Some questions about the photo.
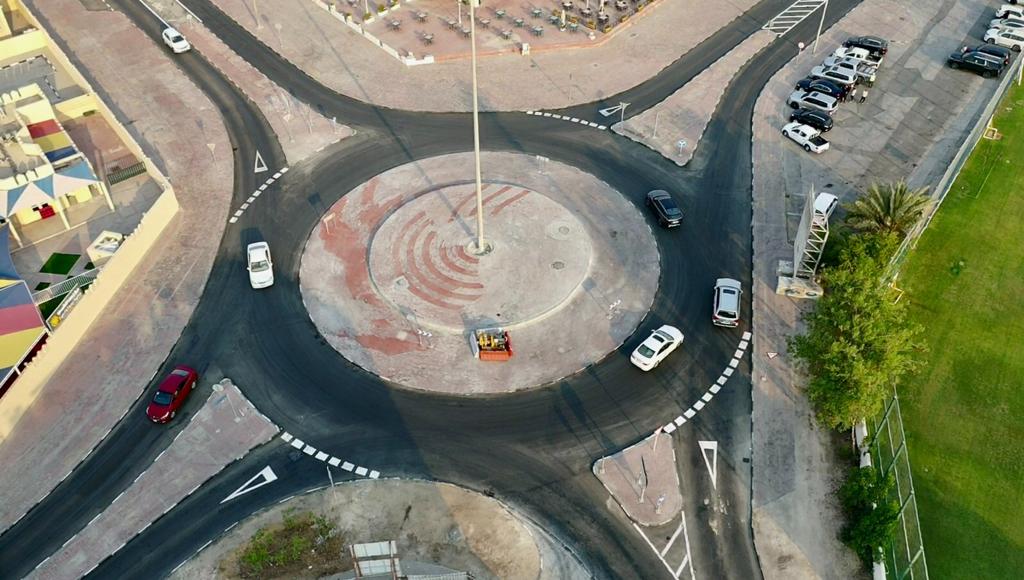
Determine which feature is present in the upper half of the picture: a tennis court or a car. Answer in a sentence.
You can see a car in the upper half of the picture.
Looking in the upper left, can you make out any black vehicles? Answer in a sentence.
No, looking in the upper left, there is no black vehicle.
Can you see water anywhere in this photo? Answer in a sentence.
No, there's no water in this view.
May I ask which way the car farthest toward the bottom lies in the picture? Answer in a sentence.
Seen from above, the car farthest toward the bottom lies diagonally.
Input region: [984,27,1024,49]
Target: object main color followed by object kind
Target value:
white car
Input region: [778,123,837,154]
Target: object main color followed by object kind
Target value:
white truck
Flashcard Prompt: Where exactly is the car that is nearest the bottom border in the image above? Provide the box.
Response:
[145,364,199,424]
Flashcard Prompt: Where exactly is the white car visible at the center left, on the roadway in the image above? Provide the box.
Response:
[245,243,275,289]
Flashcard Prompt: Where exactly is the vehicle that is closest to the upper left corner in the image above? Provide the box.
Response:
[162,27,190,53]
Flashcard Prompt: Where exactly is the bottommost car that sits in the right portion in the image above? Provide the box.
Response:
[629,325,683,374]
